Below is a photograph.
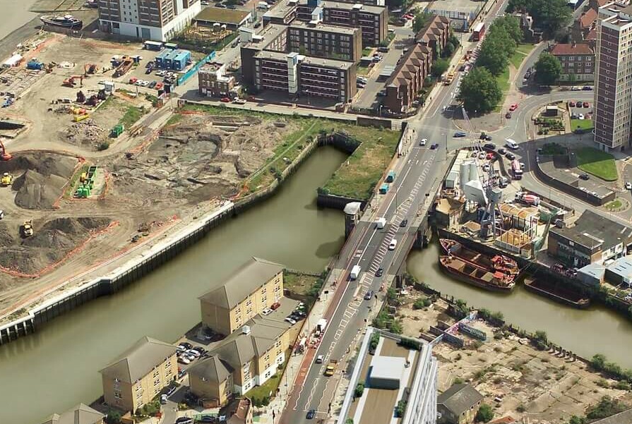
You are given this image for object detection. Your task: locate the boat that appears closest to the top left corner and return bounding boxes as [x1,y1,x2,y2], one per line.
[39,7,85,28]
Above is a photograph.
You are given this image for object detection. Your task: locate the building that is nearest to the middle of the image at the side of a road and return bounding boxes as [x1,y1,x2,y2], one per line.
[338,203,362,231]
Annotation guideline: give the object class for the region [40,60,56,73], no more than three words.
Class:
vehicle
